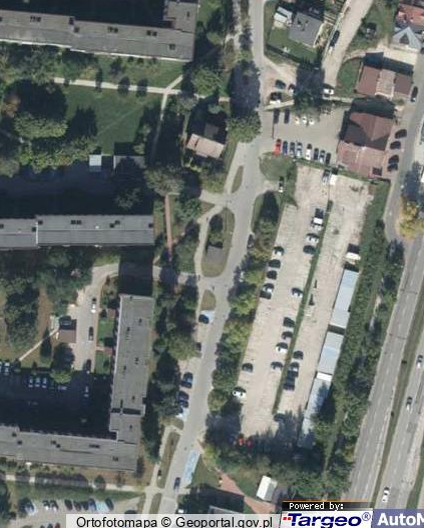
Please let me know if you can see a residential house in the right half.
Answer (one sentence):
Yes, in the right half there is a residential house.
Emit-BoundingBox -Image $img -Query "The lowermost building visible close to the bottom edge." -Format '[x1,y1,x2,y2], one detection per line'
[206,506,246,528]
